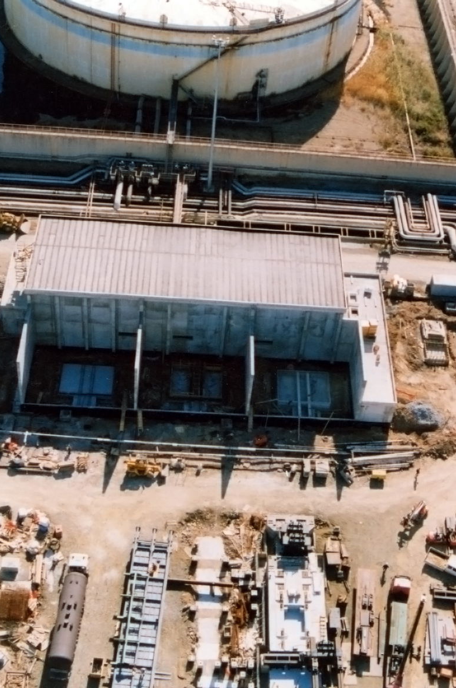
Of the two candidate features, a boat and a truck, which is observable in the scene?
truck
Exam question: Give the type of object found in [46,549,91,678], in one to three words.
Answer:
truck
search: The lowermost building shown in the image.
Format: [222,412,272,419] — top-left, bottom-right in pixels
[0,214,398,431]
